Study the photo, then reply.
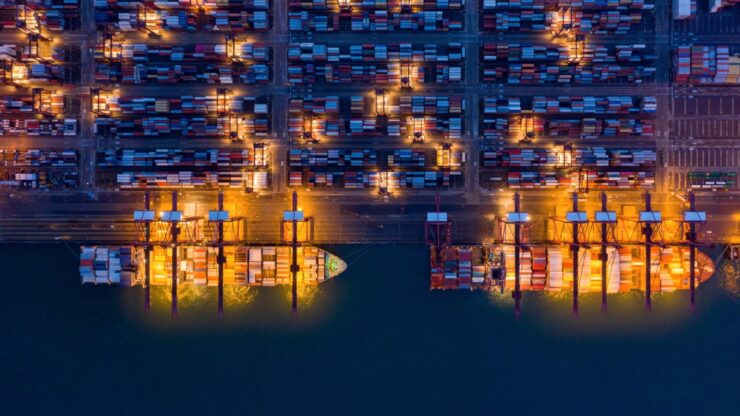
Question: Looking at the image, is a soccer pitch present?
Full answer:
No, no soccer pitch is visible in the scene.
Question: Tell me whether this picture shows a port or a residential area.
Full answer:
The area seen from above is a port.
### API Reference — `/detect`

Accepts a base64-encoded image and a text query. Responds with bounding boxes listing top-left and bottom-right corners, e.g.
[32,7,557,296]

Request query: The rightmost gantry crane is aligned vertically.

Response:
[651,190,713,318]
